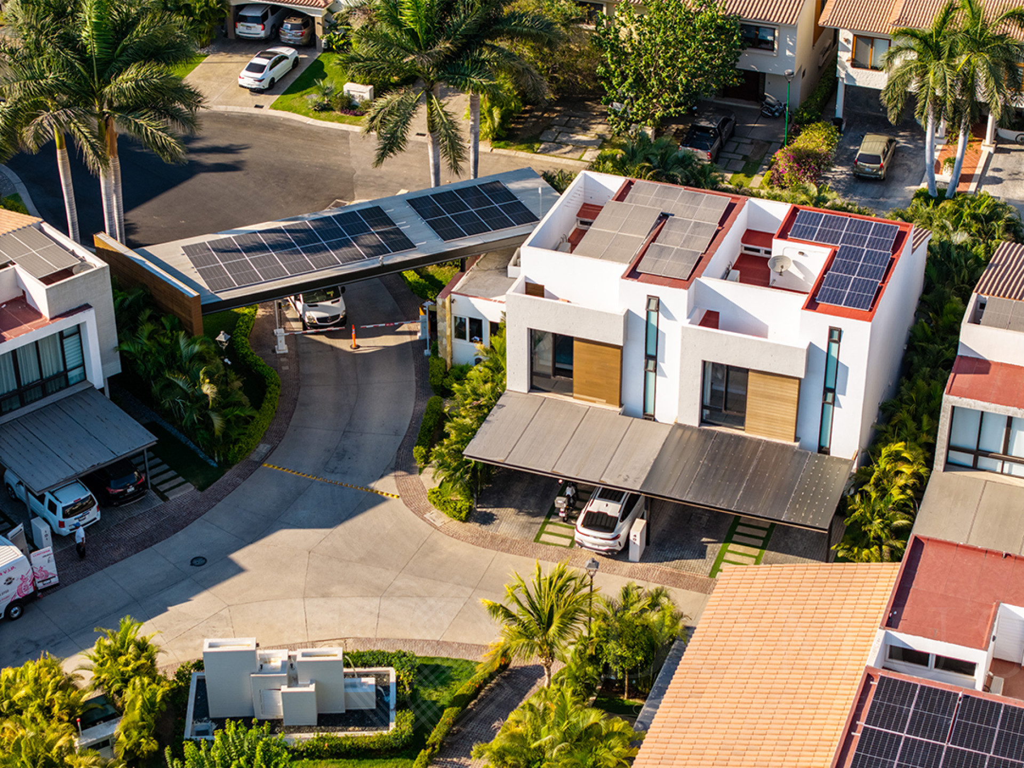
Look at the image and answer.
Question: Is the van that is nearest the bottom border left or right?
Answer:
left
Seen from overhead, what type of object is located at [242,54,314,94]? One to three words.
car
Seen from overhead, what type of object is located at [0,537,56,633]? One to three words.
van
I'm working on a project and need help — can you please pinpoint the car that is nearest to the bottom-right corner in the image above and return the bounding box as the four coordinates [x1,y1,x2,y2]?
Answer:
[578,490,665,553]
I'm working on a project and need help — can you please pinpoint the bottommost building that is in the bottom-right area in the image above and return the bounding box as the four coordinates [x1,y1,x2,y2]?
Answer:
[607,534,1024,768]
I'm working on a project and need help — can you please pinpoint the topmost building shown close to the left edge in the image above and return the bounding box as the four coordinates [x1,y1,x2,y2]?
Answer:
[0,174,158,515]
